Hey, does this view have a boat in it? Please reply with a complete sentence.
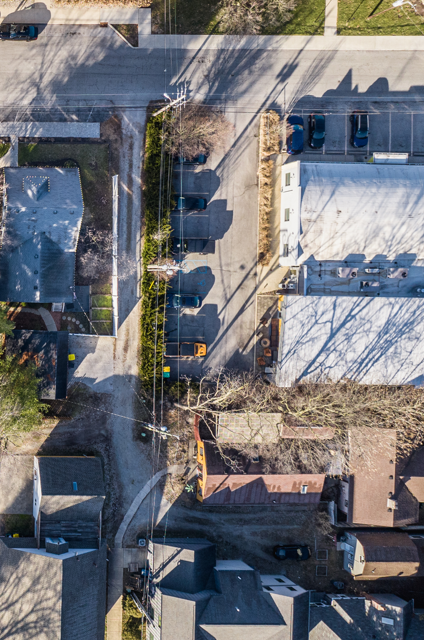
No, I can see no boat in this picture.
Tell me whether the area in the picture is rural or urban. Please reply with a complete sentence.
From above, the setting appears urban.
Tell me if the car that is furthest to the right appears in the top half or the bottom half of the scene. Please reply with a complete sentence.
The car that is furthest to the right sits in the top half of the picture.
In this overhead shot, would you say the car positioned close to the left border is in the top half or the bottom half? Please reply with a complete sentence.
Seen from above, the car positioned close to the left border lies in the top half of the view.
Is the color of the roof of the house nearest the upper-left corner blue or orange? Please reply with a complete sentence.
In this view, the roof of the house nearest the upper-left corner is blue.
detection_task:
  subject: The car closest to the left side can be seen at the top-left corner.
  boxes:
[0,22,38,42]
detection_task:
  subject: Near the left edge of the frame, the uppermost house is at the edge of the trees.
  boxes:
[0,167,84,303]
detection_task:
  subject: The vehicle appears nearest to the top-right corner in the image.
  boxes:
[349,109,370,147]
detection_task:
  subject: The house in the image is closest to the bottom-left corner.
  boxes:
[0,532,107,640]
